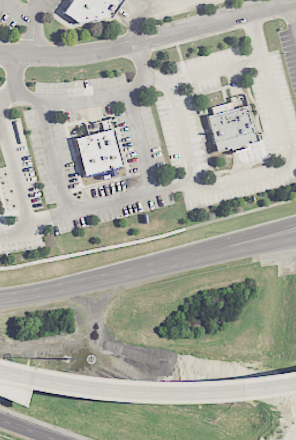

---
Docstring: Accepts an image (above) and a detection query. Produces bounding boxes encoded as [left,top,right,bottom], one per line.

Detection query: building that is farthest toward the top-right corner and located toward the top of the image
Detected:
[206,96,258,152]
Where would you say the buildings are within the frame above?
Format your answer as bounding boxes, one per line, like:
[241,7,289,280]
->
[206,96,258,152]
[62,0,124,24]
[74,130,124,180]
